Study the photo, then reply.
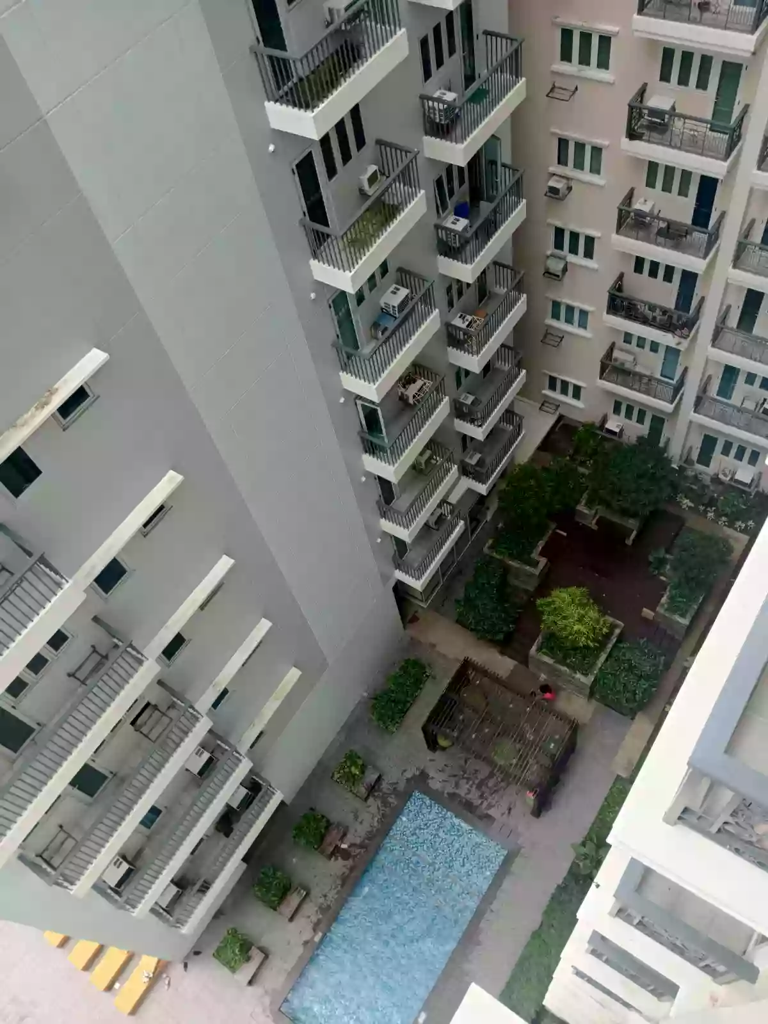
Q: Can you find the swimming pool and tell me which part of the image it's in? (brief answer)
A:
bottom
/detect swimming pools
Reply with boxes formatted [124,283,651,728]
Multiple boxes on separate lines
[267,776,523,1024]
